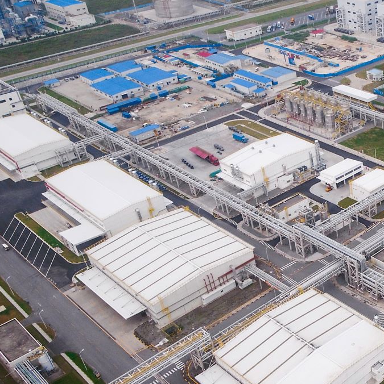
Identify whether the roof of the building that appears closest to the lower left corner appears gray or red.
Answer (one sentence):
From above, the roof of the building that appears closest to the lower left corner appears gray.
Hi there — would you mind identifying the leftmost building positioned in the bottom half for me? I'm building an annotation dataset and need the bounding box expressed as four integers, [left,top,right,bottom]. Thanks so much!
[0,318,46,371]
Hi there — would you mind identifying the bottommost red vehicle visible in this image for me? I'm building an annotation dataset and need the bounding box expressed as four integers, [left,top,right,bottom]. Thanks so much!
[190,145,213,161]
